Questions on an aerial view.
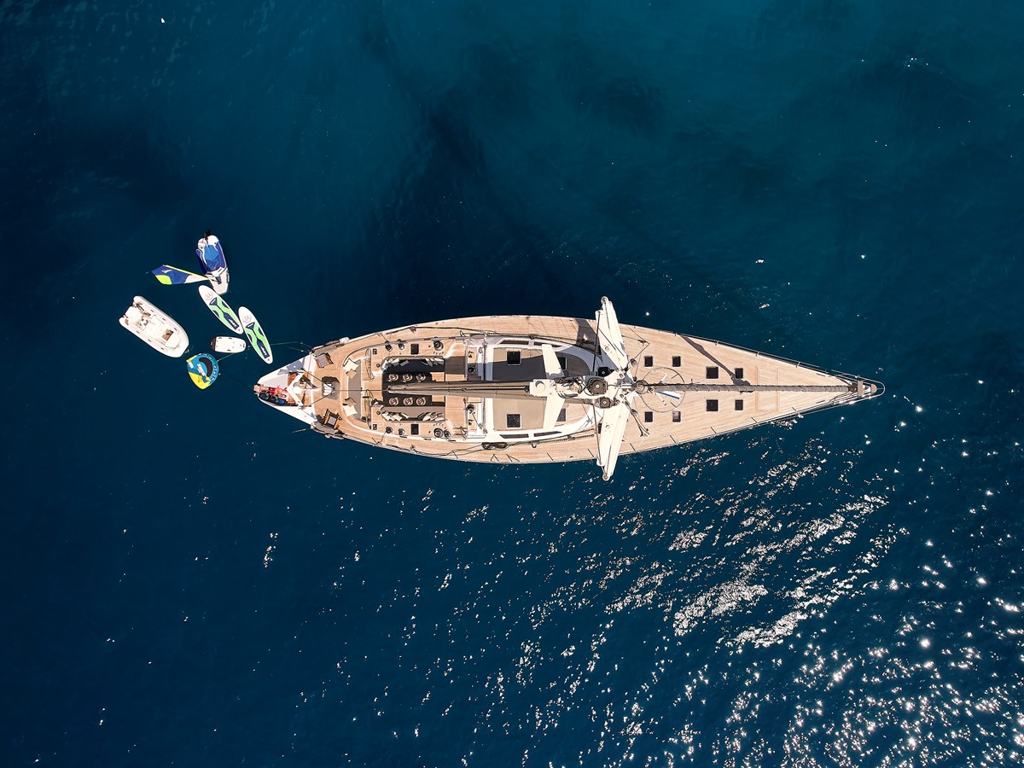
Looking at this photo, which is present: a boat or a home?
boat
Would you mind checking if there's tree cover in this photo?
No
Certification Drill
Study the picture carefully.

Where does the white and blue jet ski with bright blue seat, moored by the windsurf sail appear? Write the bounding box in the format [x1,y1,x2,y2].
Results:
[194,230,230,295]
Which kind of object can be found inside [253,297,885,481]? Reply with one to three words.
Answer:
boat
